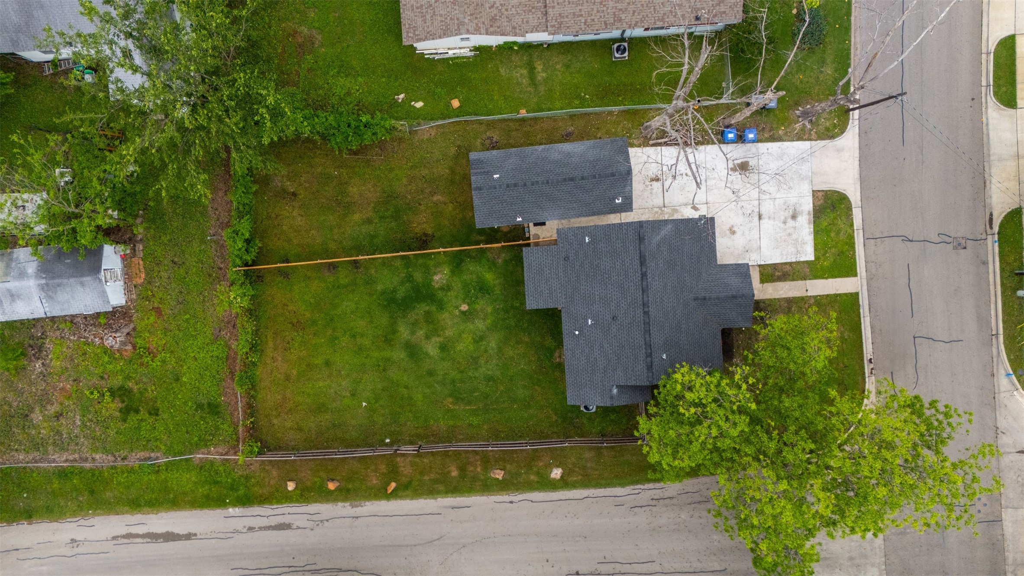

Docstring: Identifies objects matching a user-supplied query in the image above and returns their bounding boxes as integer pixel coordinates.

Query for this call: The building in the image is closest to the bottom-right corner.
[523,214,757,407]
